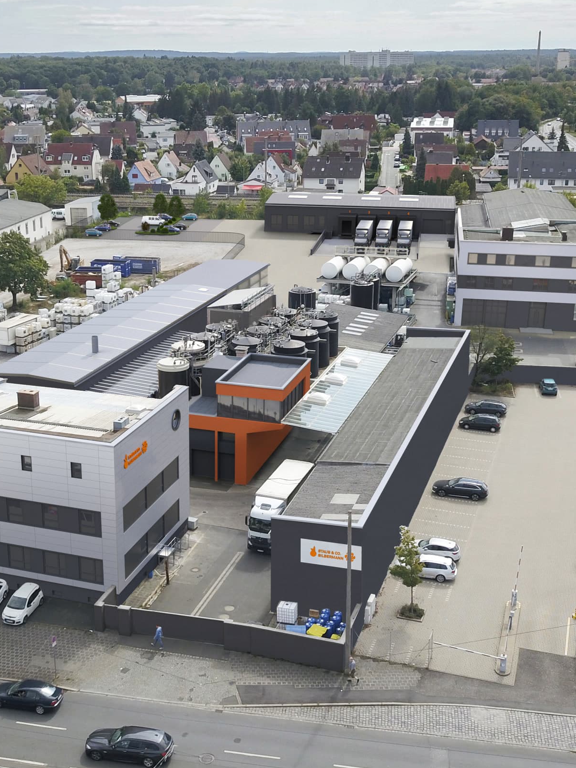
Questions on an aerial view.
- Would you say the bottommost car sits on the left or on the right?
left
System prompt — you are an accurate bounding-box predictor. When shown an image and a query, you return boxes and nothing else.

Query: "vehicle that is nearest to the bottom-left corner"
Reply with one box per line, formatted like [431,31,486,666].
[0,677,68,716]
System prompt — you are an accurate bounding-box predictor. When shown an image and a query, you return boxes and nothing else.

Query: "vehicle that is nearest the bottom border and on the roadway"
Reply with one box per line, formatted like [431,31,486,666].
[81,725,171,768]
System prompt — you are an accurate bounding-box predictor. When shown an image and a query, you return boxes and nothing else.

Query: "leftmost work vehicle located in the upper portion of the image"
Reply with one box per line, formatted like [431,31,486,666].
[53,244,78,277]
